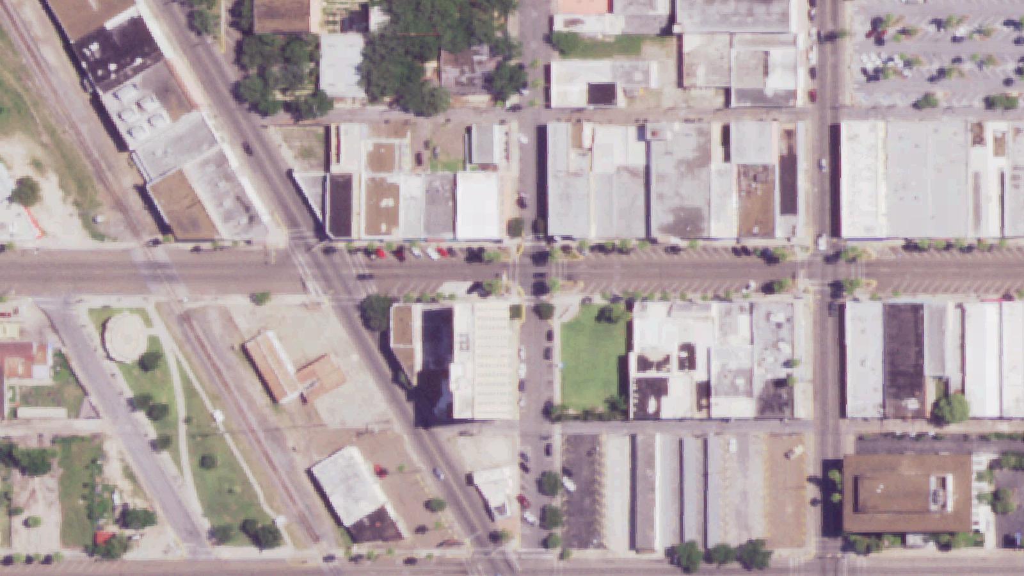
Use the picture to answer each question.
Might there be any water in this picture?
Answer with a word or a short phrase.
No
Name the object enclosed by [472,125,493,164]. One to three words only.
house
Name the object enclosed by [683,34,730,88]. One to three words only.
building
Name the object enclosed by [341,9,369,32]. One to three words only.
shed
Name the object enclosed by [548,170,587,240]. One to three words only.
building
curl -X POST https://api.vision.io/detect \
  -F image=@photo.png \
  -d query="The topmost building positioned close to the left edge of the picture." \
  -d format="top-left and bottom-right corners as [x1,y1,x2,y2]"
[46,0,137,42]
